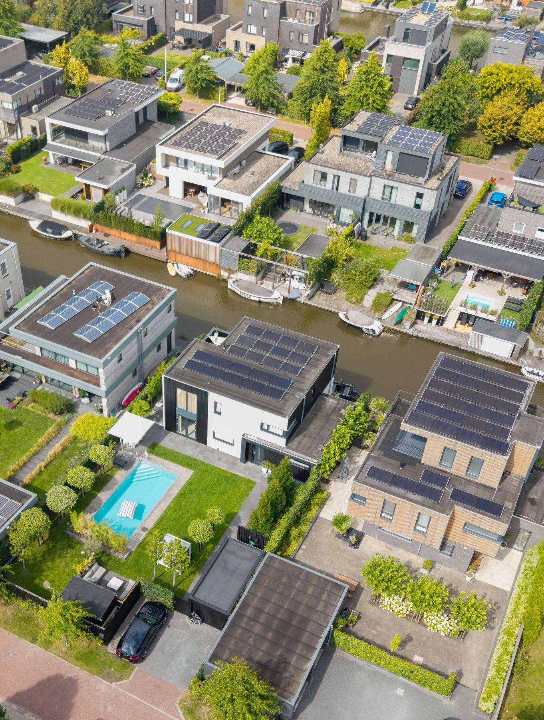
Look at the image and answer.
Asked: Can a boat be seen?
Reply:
Yes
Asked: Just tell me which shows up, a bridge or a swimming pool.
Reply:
swimming pool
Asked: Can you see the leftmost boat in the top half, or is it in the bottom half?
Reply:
top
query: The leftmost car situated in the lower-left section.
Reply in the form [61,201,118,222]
[116,599,171,664]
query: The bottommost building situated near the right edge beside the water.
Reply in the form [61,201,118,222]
[347,351,544,572]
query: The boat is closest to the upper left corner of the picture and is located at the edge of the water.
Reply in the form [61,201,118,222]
[29,219,78,242]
